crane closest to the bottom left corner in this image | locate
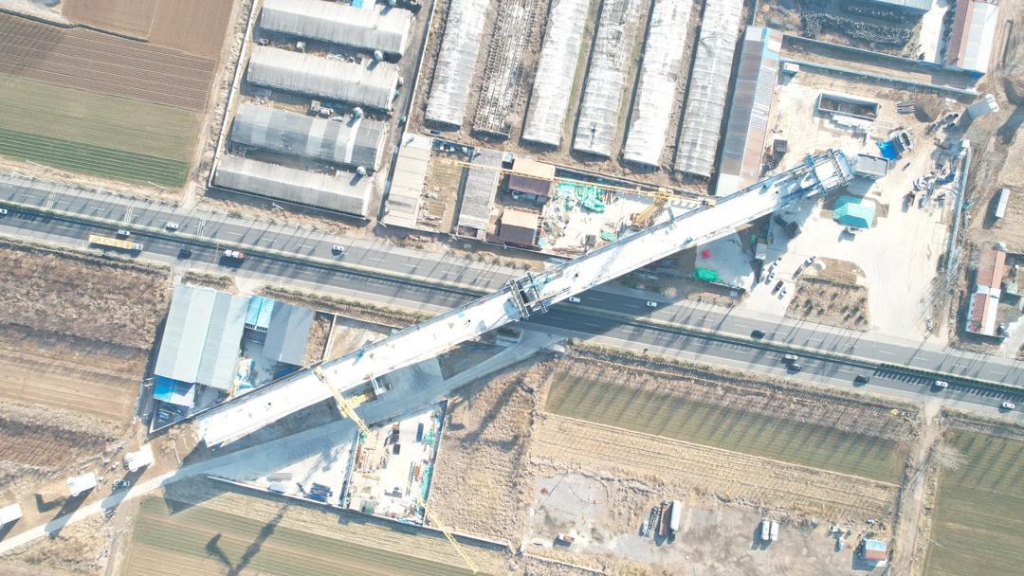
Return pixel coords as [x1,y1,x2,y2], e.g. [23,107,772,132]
[311,367,479,574]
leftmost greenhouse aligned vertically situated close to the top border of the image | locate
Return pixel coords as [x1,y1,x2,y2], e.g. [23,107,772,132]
[425,0,489,127]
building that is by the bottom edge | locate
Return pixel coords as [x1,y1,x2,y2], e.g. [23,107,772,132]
[857,537,887,559]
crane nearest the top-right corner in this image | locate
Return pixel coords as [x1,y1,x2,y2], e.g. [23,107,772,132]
[455,159,714,220]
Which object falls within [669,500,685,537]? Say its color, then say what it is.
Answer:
white vehicle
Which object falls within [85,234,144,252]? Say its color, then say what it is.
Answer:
white vehicle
